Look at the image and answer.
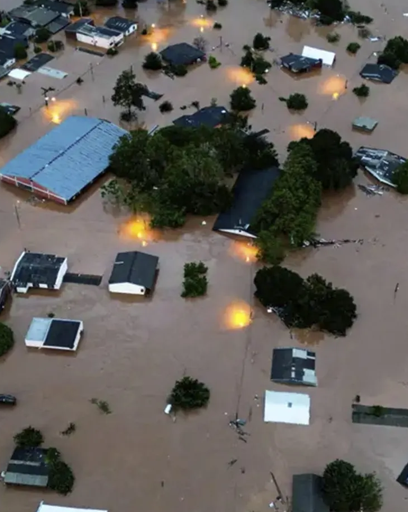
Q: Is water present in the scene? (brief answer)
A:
Yes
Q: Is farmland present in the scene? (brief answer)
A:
No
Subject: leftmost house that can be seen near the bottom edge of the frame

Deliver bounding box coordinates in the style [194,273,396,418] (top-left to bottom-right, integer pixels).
[4,446,49,488]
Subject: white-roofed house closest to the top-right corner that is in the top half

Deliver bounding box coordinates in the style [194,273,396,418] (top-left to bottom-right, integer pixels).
[301,45,335,71]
